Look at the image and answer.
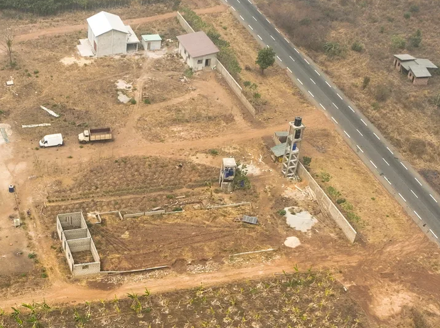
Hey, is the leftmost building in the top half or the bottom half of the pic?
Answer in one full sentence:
Seen from above, the leftmost building lies in the bottom half of the view.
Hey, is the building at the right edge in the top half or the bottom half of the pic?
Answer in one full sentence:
Seen from above, the building at the right edge lies in the top half of the view.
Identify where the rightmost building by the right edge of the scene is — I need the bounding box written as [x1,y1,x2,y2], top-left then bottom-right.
[393,54,437,87]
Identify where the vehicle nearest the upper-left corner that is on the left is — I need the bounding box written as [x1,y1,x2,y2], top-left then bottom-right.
[40,132,63,147]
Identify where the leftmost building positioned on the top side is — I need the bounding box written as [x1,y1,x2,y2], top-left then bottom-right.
[76,11,138,56]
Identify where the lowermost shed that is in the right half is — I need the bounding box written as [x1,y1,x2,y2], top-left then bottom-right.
[271,131,292,164]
